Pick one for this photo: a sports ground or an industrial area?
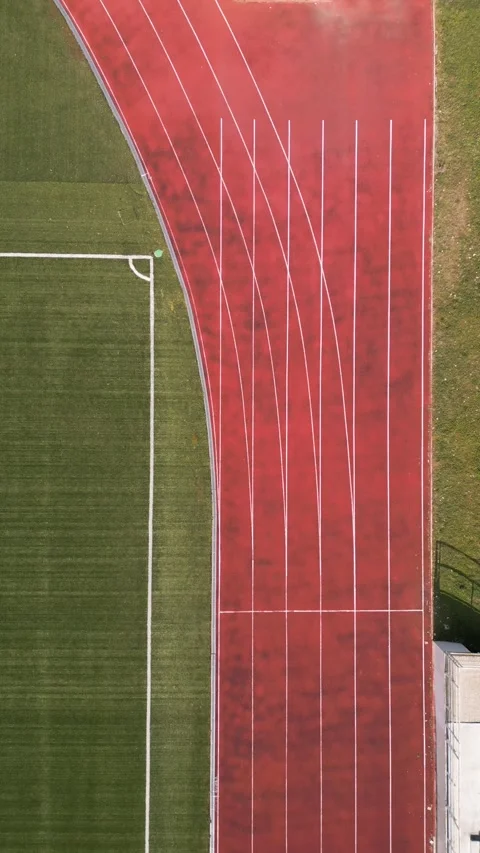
sports ground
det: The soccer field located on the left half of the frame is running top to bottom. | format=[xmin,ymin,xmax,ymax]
[0,0,212,853]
